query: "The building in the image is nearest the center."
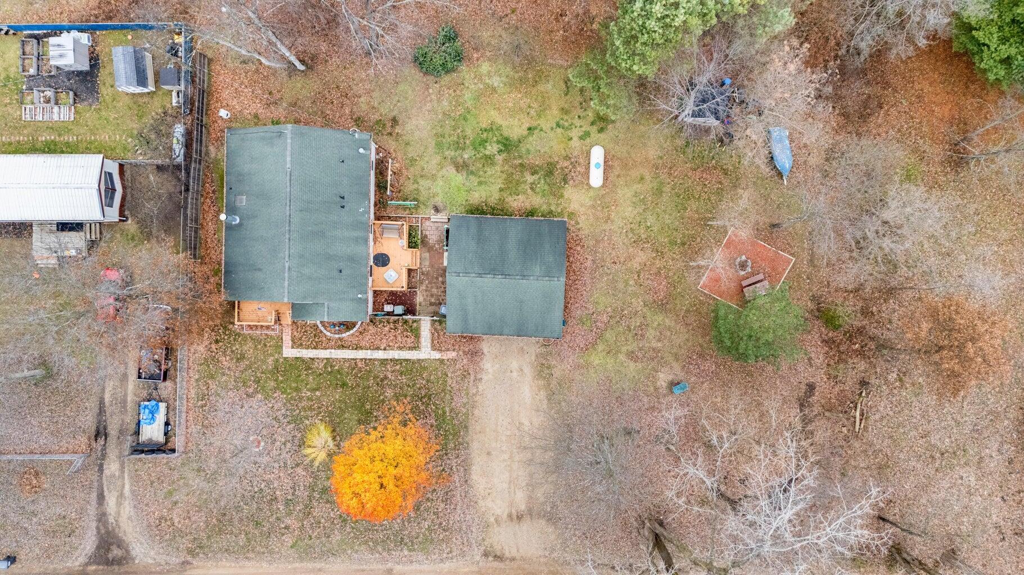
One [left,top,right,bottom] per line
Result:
[444,213,568,342]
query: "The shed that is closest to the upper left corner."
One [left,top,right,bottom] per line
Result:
[50,34,89,71]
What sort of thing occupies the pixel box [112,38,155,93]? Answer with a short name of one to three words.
shed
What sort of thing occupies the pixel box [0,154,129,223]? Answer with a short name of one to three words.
house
